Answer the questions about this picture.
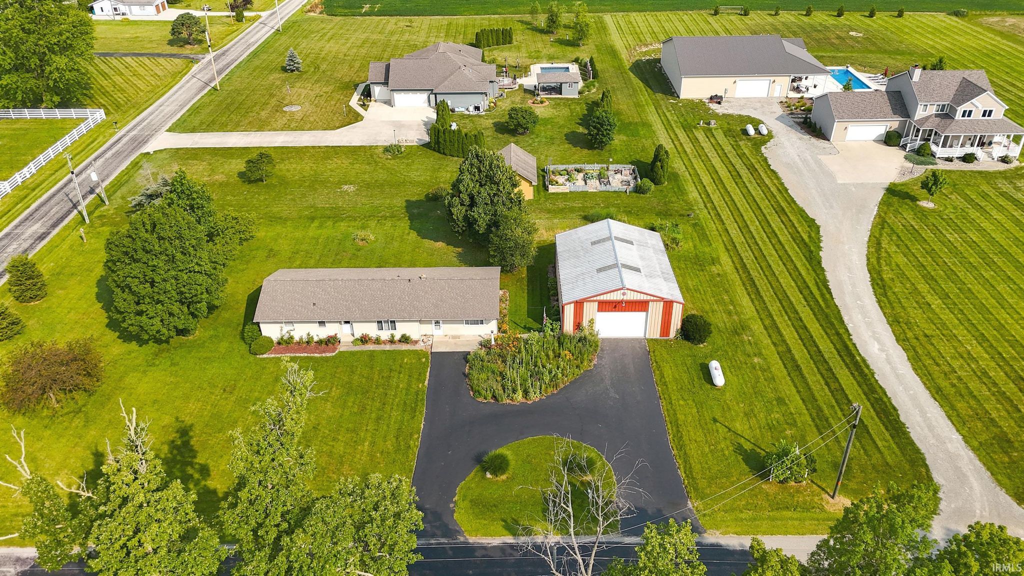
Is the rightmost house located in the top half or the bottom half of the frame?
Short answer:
top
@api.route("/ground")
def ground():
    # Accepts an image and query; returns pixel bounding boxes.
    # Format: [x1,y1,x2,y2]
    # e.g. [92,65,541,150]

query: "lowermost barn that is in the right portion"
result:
[553,220,687,339]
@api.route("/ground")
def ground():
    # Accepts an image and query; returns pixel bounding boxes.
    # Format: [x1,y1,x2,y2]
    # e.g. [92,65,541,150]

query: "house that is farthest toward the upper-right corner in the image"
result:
[805,61,1024,157]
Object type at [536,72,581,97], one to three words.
building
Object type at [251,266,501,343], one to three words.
house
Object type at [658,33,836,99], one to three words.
barn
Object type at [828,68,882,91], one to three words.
swimming pool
